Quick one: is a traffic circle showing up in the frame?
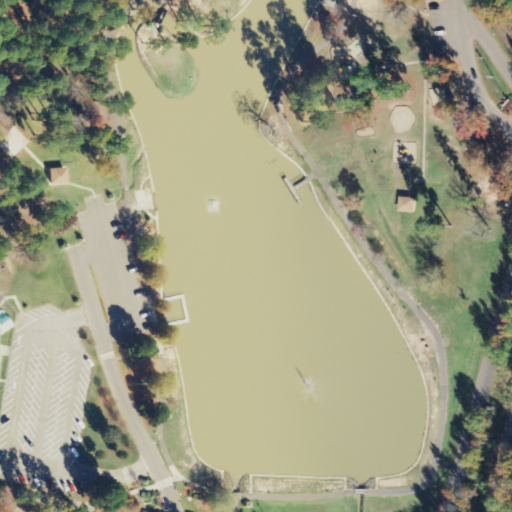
No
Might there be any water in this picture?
Yes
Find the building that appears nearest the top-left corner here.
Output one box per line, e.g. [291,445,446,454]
[50,166,69,184]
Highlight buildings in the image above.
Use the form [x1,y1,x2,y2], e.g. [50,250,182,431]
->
[50,166,69,184]
[328,82,348,98]
[396,196,415,212]
[0,310,15,336]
